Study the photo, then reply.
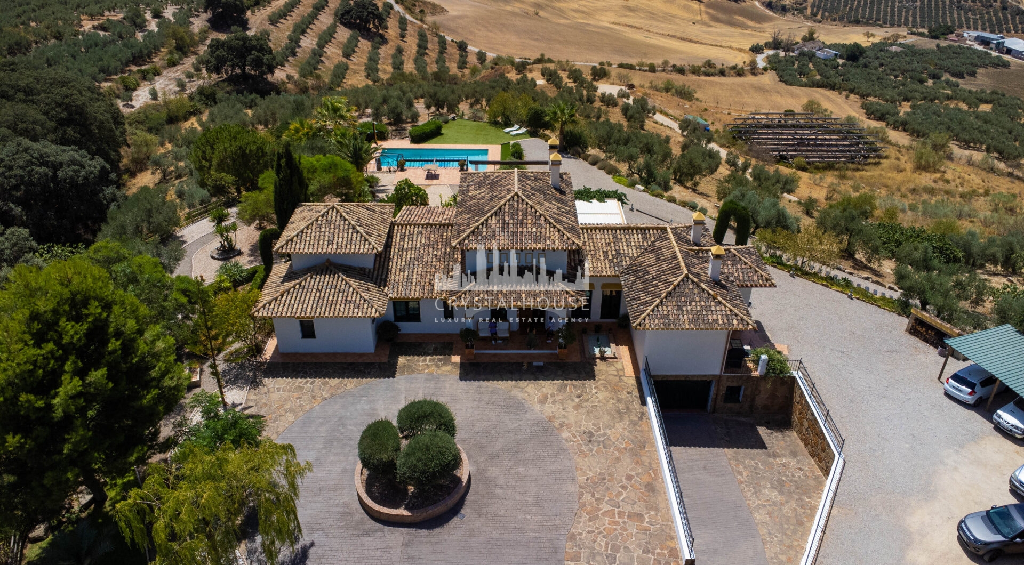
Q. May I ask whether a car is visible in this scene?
Yes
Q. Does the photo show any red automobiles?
No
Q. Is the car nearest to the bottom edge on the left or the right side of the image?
right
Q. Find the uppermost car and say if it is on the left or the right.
right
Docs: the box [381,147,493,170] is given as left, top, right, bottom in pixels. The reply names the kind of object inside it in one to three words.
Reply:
swimming pool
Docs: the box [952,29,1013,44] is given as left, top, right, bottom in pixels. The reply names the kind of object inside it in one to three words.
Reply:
barn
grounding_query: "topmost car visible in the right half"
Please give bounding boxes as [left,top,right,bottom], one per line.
[947,362,1007,407]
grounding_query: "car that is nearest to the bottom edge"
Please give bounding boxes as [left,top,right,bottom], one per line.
[954,490,1024,557]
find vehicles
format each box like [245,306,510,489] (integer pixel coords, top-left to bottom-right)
[988,390,1024,438]
[1011,456,1024,490]
[954,490,1024,557]
[947,362,1007,407]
